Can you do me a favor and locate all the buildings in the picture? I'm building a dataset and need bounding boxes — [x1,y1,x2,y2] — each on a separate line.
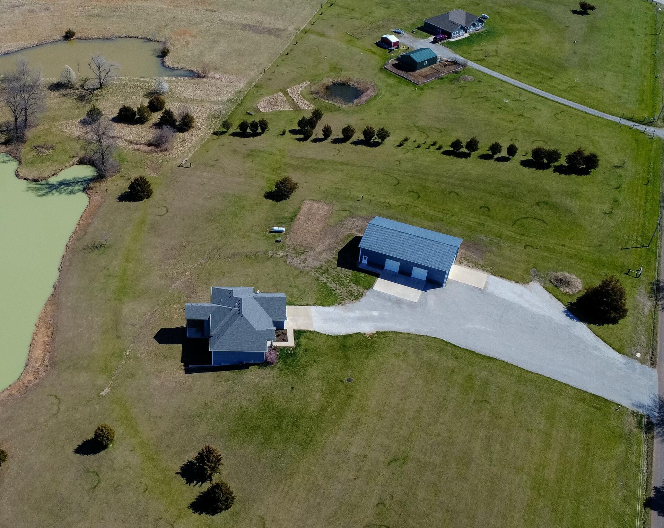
[381,32,400,47]
[185,283,288,365]
[399,46,437,70]
[358,215,465,287]
[422,9,487,39]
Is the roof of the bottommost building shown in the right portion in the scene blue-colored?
Yes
